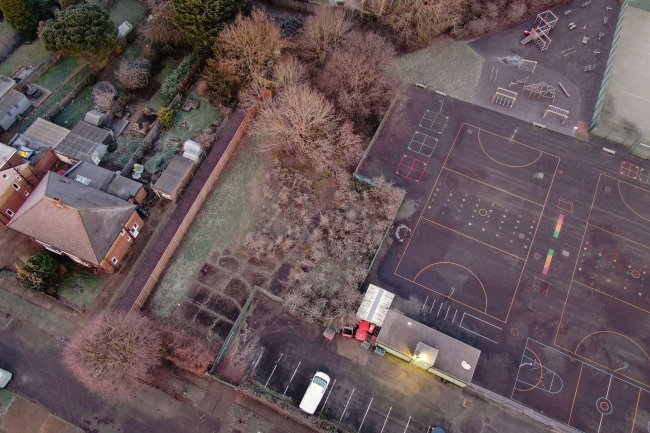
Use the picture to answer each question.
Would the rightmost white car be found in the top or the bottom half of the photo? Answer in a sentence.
You can find the rightmost white car in the bottom half.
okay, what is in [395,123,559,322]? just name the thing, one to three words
sports court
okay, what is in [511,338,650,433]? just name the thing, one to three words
basketball court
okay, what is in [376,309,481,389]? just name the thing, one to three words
building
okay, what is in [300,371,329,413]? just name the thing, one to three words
car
